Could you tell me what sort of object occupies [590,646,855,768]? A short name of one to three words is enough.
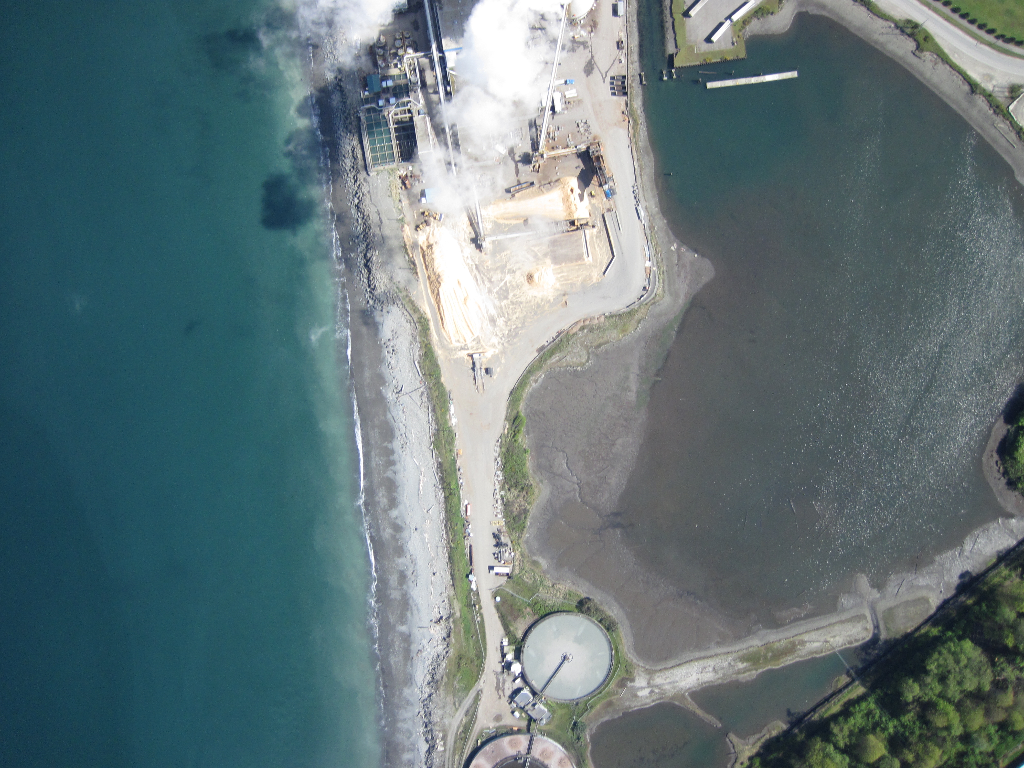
pond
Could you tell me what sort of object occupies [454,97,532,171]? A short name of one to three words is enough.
building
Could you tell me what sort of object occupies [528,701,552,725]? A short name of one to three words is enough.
building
